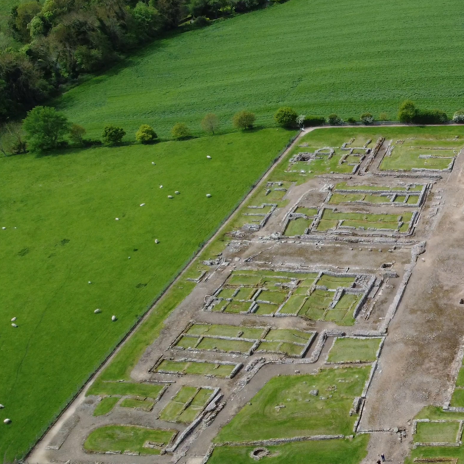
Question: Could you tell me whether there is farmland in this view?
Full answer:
Yes, there is farmland in the image.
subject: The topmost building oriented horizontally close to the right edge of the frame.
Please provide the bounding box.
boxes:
[381,137,463,174]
